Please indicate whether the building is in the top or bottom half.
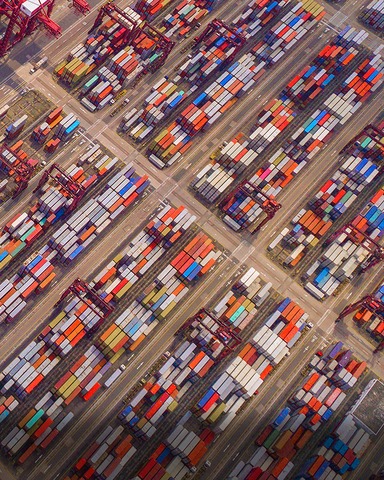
bottom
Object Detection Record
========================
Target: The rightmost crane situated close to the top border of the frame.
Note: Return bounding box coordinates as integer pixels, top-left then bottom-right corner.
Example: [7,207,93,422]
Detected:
[193,17,249,67]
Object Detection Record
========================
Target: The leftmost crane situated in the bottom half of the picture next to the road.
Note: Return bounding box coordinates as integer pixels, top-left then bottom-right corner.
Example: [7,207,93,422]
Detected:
[55,278,114,330]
